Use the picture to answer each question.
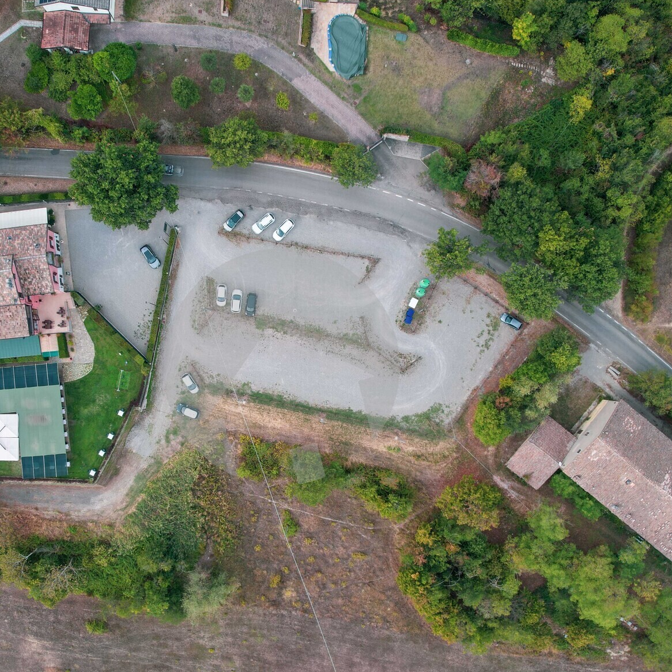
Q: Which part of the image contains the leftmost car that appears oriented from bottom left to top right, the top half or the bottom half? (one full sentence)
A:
It is in the top half that the leftmost car that appears oriented from bottom left to top right appears.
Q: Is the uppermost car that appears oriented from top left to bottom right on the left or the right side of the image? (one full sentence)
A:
The uppermost car that appears oriented from top left to bottom right appears in the left half of the scene.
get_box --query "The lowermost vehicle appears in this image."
[176,404,201,420]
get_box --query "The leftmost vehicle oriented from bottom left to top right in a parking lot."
[224,208,245,232]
